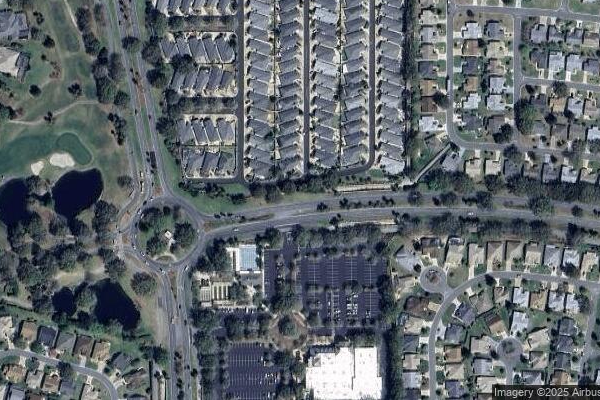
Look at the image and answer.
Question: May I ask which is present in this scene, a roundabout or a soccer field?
roundabout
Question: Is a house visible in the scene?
Yes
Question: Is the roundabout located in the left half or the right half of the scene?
left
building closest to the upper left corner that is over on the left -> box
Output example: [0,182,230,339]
[0,9,26,42]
